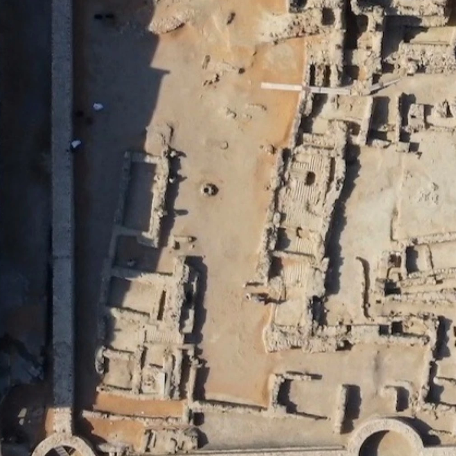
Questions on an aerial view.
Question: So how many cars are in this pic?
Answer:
0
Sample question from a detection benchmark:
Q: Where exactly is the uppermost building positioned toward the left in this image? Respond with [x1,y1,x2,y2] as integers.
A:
[97,131,201,345]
